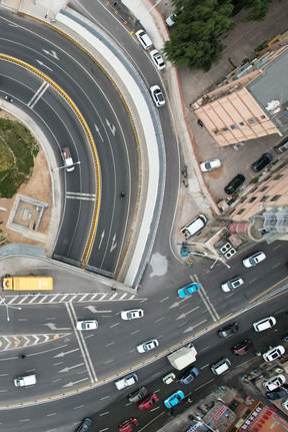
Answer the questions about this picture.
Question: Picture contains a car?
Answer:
Yes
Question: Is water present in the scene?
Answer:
No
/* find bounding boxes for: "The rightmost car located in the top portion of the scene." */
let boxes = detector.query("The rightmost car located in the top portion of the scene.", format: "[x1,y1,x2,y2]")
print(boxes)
[273,138,288,155]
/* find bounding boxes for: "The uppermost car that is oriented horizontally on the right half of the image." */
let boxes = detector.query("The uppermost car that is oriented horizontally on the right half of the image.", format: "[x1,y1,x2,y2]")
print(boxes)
[197,158,221,171]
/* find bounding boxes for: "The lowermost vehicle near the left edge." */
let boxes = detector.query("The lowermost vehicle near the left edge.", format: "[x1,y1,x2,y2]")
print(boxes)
[13,372,37,386]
